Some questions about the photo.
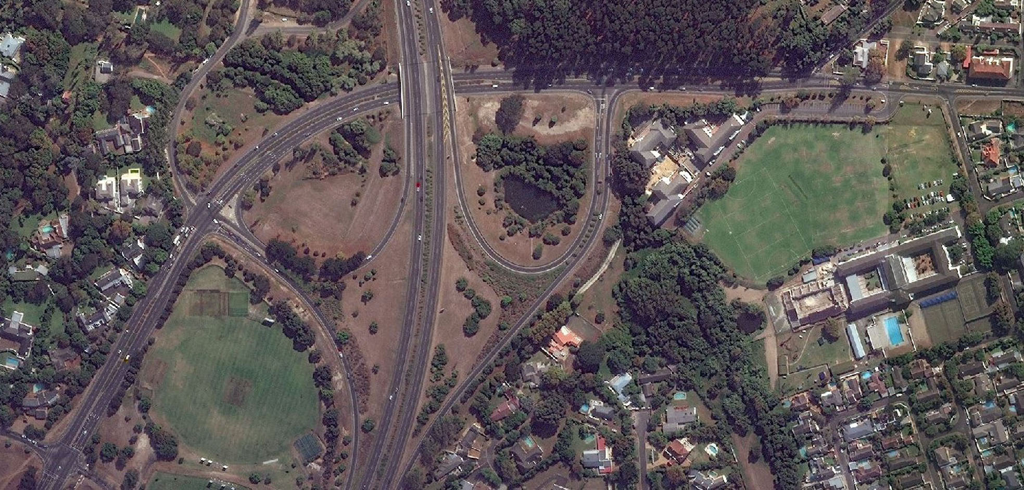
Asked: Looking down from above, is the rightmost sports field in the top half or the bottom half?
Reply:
top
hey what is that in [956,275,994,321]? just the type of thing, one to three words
tennis court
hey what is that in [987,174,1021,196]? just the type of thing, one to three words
house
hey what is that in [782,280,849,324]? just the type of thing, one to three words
building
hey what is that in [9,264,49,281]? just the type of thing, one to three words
house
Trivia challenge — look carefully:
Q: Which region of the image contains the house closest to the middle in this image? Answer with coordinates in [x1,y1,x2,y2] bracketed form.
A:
[550,326,581,359]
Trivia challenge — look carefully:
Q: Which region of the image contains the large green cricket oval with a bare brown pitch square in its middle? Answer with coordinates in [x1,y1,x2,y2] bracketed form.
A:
[139,264,320,465]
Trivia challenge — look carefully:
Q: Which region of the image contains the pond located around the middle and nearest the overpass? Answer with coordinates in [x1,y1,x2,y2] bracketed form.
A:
[504,174,558,222]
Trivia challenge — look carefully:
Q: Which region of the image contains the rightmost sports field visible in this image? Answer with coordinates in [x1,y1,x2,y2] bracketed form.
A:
[888,101,960,233]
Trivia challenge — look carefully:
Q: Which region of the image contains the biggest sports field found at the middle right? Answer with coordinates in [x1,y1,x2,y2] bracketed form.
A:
[697,123,891,285]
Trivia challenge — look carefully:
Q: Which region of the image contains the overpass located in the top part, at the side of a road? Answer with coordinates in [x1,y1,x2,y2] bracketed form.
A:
[398,60,456,119]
